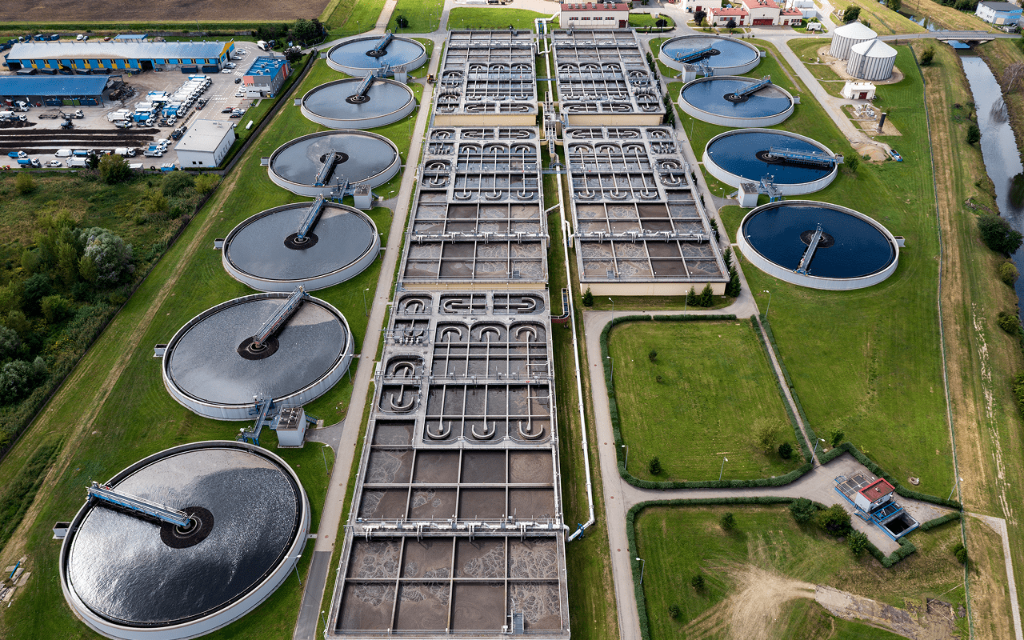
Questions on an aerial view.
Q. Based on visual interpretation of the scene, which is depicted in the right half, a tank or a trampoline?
tank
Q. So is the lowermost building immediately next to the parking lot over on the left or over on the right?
left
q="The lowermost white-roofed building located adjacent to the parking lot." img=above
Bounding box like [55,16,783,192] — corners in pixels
[173,121,235,167]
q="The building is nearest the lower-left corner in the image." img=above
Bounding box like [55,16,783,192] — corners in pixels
[274,407,334,448]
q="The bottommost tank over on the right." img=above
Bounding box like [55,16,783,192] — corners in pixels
[736,199,899,291]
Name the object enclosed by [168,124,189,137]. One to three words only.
vehicle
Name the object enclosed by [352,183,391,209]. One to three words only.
building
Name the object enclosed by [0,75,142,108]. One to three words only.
shed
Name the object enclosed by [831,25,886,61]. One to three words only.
storage tank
